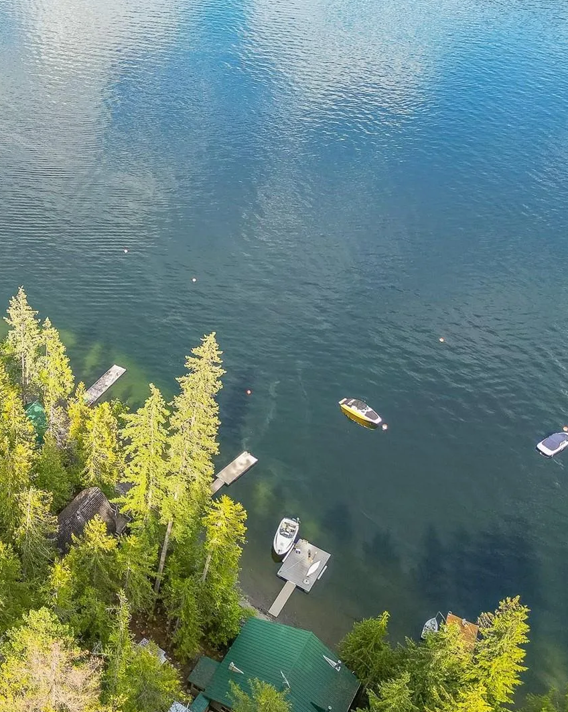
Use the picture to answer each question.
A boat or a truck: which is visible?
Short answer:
boat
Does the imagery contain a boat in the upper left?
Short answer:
No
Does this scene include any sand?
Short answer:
No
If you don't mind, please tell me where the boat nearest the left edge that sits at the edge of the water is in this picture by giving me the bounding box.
[276,513,304,558]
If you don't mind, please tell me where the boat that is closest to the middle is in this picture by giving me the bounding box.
[333,397,383,423]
